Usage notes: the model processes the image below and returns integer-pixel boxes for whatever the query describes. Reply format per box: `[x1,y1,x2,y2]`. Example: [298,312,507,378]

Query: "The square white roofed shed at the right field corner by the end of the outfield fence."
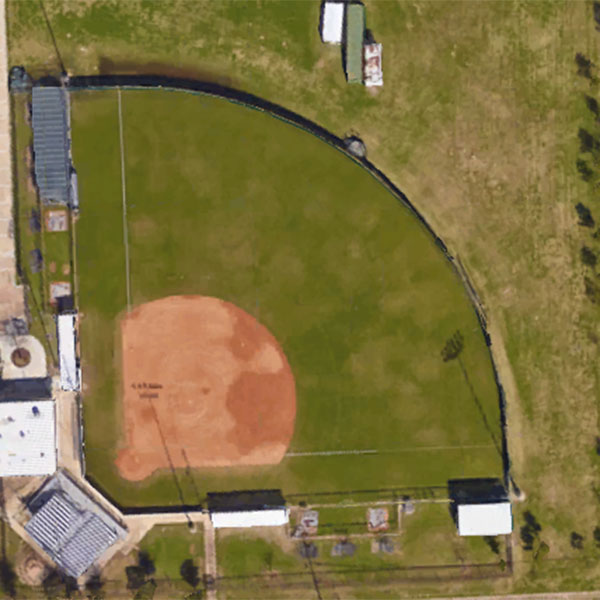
[458,503,513,536]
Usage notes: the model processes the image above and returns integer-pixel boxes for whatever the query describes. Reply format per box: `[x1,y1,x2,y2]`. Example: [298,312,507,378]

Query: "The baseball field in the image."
[69,87,508,513]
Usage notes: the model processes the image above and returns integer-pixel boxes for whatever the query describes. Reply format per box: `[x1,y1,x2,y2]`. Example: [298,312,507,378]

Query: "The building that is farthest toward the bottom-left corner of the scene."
[0,401,58,476]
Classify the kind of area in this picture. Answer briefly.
sports ground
